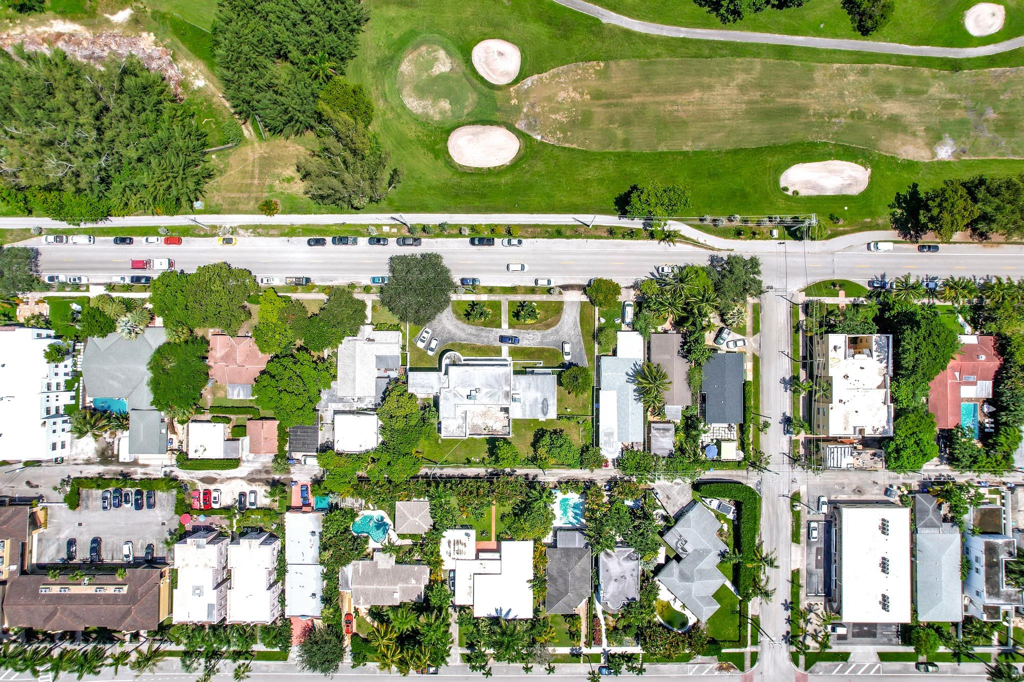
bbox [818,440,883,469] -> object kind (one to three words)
building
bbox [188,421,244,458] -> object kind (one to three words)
house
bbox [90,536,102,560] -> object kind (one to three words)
vehicle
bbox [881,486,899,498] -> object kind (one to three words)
vehicle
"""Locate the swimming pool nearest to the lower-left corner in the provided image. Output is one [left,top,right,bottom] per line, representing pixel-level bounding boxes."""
[86,396,129,417]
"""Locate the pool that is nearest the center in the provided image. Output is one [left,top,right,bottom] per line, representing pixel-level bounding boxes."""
[552,491,586,528]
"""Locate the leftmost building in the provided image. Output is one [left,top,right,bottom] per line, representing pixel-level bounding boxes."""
[0,325,79,459]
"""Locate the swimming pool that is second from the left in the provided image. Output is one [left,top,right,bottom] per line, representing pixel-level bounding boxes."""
[350,509,414,550]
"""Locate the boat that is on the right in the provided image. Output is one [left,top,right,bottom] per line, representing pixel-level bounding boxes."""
[700,496,738,518]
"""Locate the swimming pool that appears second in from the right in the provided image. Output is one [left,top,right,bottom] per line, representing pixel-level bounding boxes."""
[653,579,698,634]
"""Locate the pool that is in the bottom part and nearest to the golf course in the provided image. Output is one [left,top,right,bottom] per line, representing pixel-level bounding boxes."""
[958,398,995,444]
